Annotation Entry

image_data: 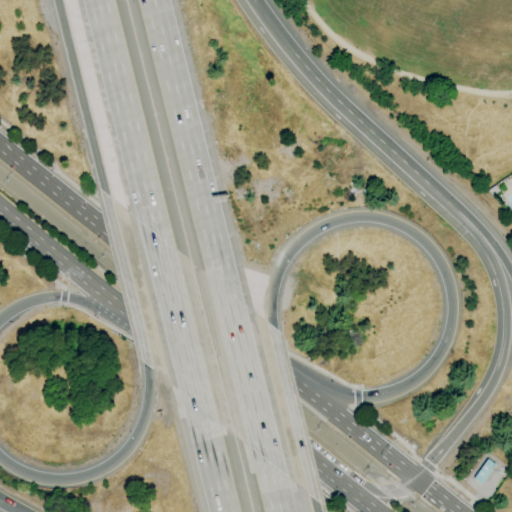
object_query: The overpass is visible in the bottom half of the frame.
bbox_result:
[100,190,324,504]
